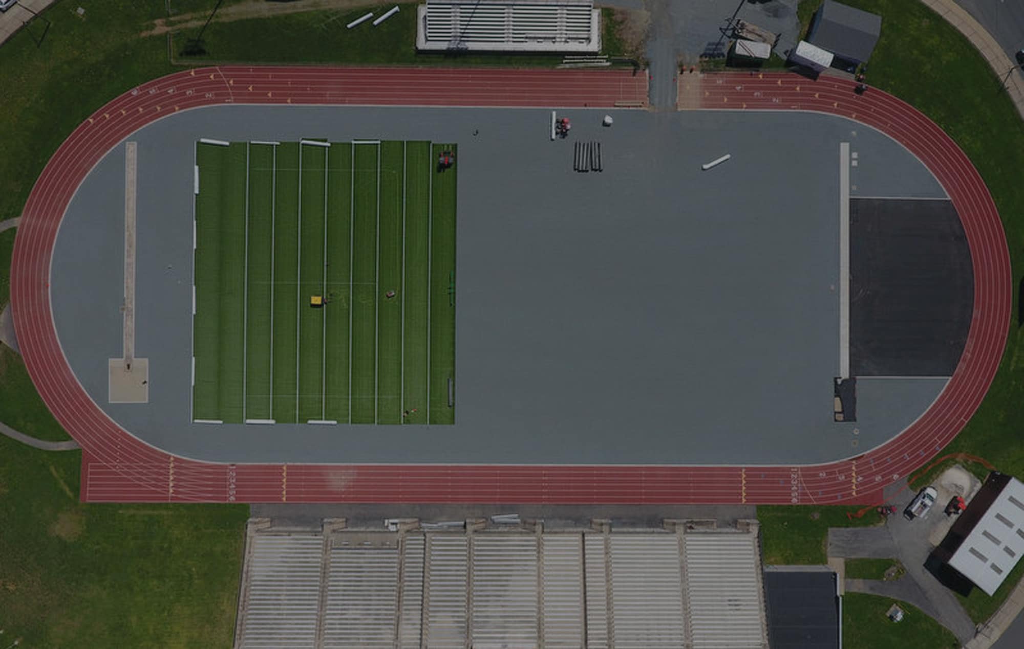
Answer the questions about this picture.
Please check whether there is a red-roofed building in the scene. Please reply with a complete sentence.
No, this view has no red-roofed building in it.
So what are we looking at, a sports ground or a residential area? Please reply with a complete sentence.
The picture captures a sports ground.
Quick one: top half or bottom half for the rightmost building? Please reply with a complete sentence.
You can find the rightmost building in the bottom half.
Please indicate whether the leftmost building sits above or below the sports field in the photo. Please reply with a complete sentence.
The leftmost building is found below the sports field in the photo.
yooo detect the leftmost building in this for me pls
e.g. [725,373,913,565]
[762,565,843,649]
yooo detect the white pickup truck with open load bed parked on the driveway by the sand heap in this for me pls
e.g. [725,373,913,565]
[905,485,935,521]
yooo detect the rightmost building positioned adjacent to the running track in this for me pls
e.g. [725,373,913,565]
[931,469,1024,597]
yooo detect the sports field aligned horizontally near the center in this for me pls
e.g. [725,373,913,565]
[51,105,948,464]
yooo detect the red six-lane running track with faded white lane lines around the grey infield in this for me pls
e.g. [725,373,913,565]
[10,65,1013,505]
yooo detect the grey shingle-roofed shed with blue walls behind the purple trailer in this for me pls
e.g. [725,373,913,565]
[806,0,882,66]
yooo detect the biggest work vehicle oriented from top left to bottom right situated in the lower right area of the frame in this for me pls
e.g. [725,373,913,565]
[938,492,967,514]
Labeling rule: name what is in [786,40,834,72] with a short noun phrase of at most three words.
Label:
trailer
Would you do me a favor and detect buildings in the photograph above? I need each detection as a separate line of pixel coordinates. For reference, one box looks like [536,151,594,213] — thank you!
[931,469,1024,597]
[762,565,843,649]
[806,0,882,66]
